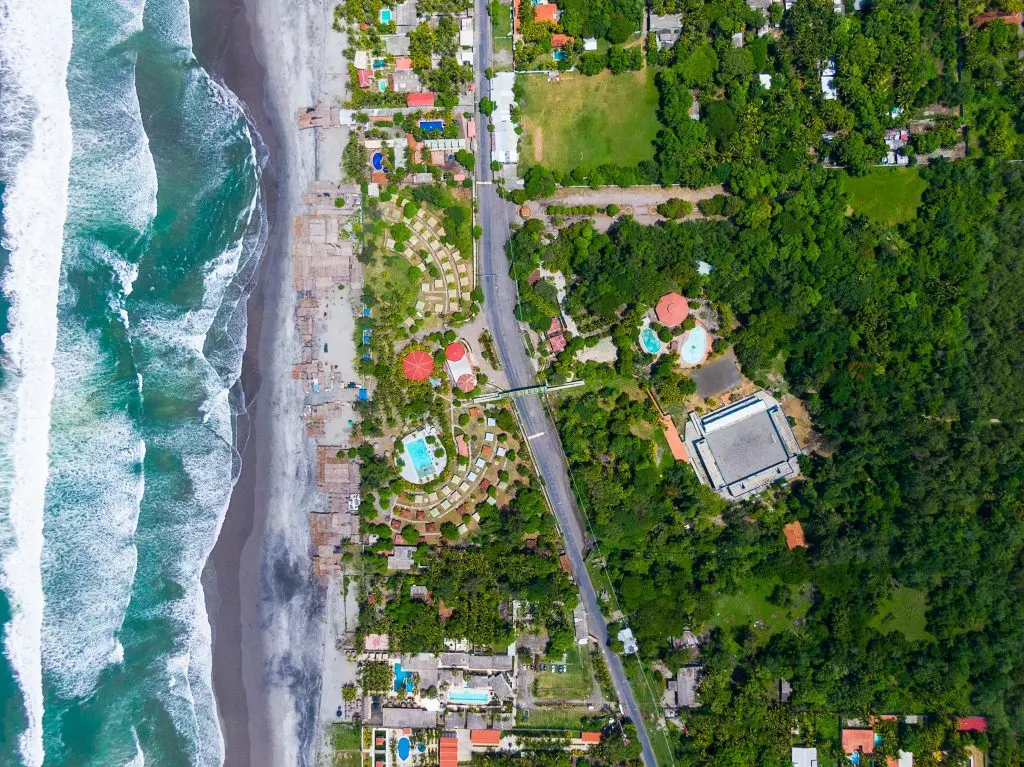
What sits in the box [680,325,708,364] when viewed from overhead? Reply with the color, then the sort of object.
white swimming pool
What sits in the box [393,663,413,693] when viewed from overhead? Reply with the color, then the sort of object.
blue swimming pool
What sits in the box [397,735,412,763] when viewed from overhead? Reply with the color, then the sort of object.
blue swimming pool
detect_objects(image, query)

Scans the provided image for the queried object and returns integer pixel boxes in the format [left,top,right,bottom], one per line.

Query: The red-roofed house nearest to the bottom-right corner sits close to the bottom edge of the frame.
[954,715,988,731]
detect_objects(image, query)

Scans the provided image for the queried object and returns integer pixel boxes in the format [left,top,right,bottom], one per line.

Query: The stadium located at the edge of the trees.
[686,391,801,500]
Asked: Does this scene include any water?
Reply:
Yes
